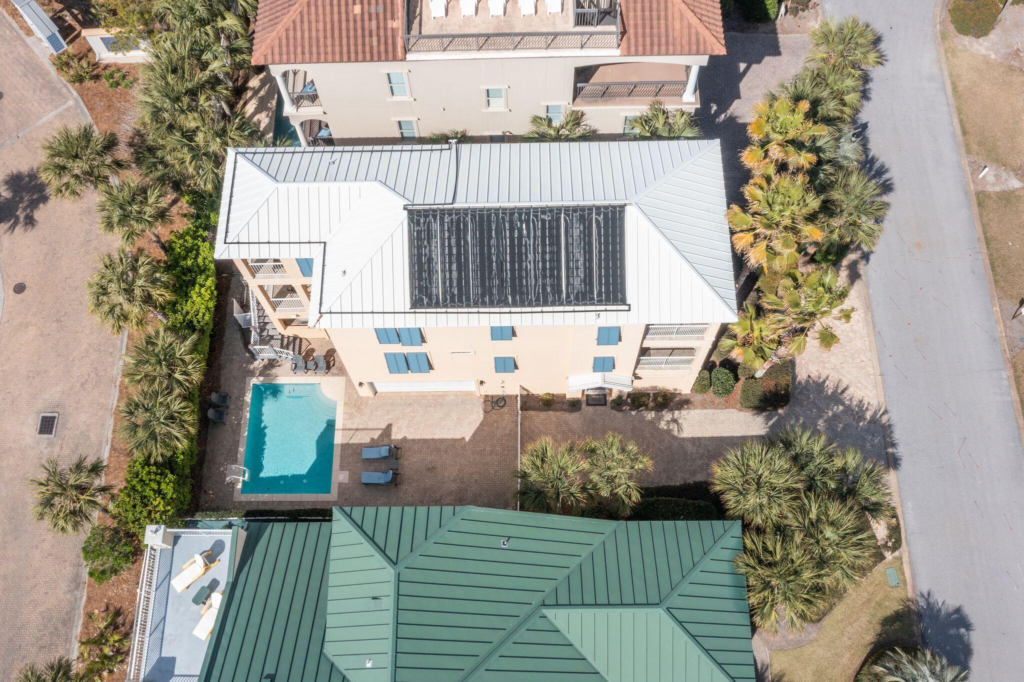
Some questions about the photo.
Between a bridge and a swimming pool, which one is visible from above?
swimming pool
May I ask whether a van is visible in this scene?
No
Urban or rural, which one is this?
urban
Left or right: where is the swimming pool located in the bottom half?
left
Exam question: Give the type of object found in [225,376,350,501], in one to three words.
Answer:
swimming pool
